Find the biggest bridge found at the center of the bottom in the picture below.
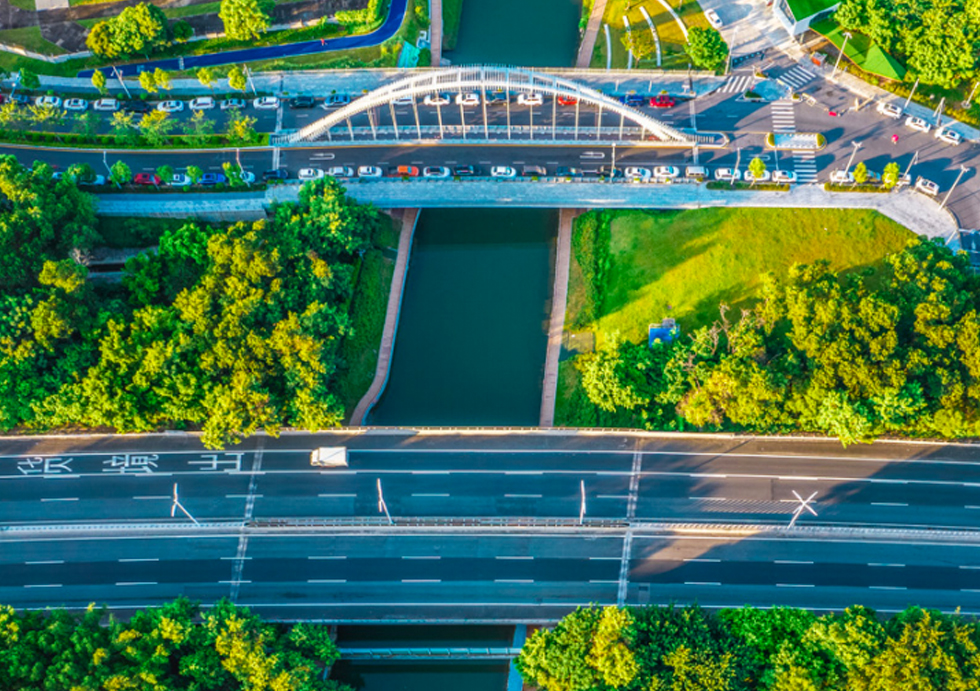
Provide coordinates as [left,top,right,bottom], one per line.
[225,426,645,626]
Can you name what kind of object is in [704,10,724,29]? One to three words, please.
car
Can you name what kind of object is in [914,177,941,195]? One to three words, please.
car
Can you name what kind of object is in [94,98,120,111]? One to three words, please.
vehicle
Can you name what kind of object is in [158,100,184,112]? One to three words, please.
vehicle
